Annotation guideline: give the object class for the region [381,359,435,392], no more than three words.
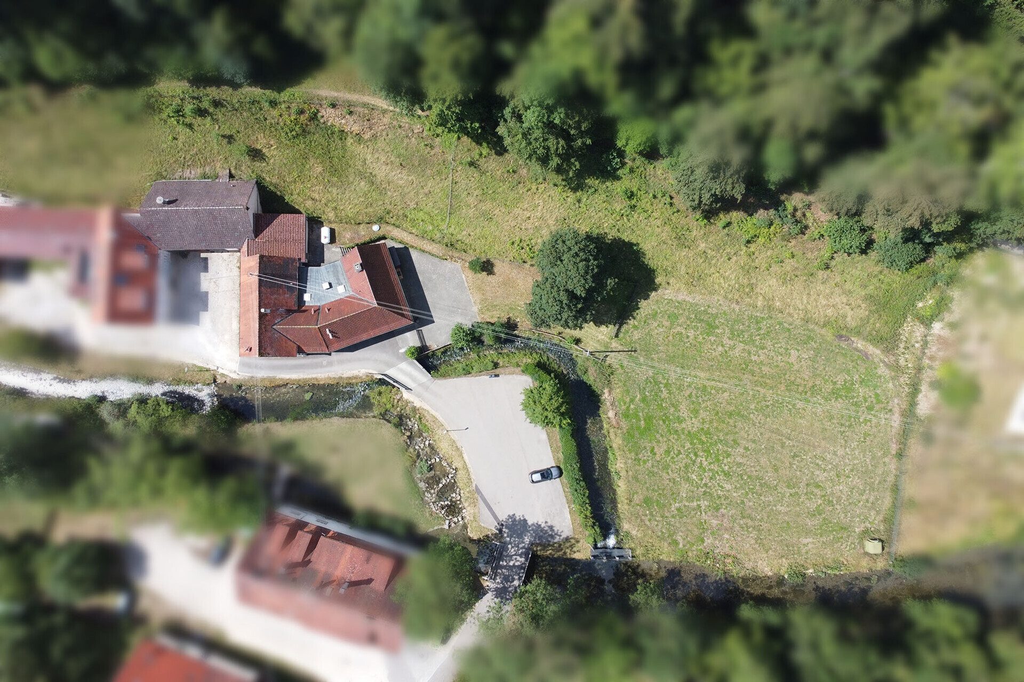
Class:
bridge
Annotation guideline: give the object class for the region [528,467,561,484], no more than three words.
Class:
car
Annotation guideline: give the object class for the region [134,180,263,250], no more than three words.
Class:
barn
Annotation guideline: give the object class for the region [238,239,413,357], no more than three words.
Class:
house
